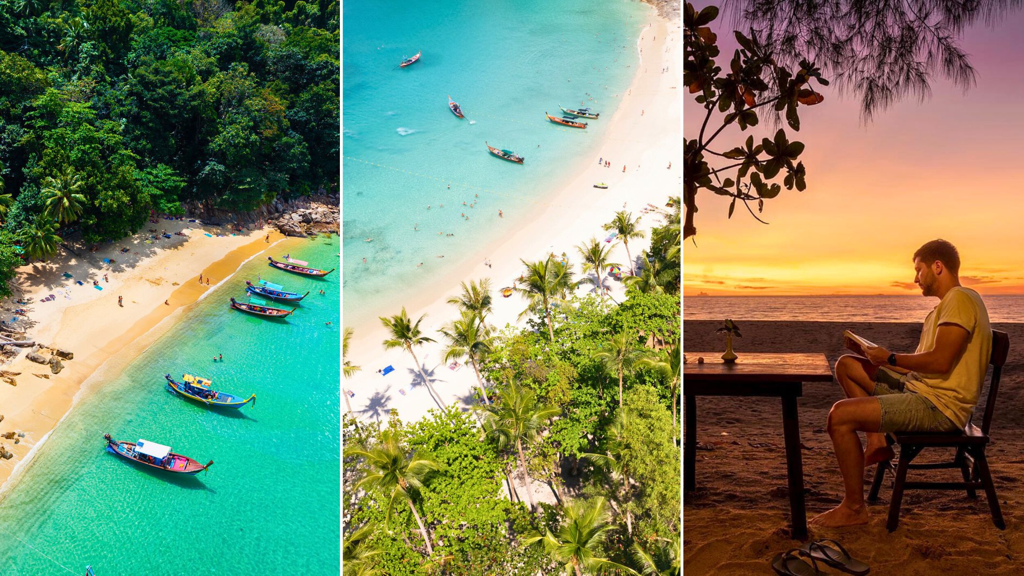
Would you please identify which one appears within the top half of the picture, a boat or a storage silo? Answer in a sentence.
There is a boat within the top half of the picture.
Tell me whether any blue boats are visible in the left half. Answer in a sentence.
Yes, a blue boat shows up in the left half.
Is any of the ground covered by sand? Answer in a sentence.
Yes, there's sand in this view.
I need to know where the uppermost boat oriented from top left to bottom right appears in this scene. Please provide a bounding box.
[449,94,467,126]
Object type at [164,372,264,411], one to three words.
boat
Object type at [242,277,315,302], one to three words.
boat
